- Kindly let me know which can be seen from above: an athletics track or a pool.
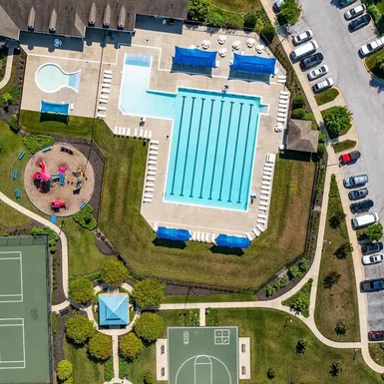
pool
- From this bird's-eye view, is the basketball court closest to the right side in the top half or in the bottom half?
bottom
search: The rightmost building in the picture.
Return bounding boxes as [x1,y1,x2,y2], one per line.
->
[283,119,319,152]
